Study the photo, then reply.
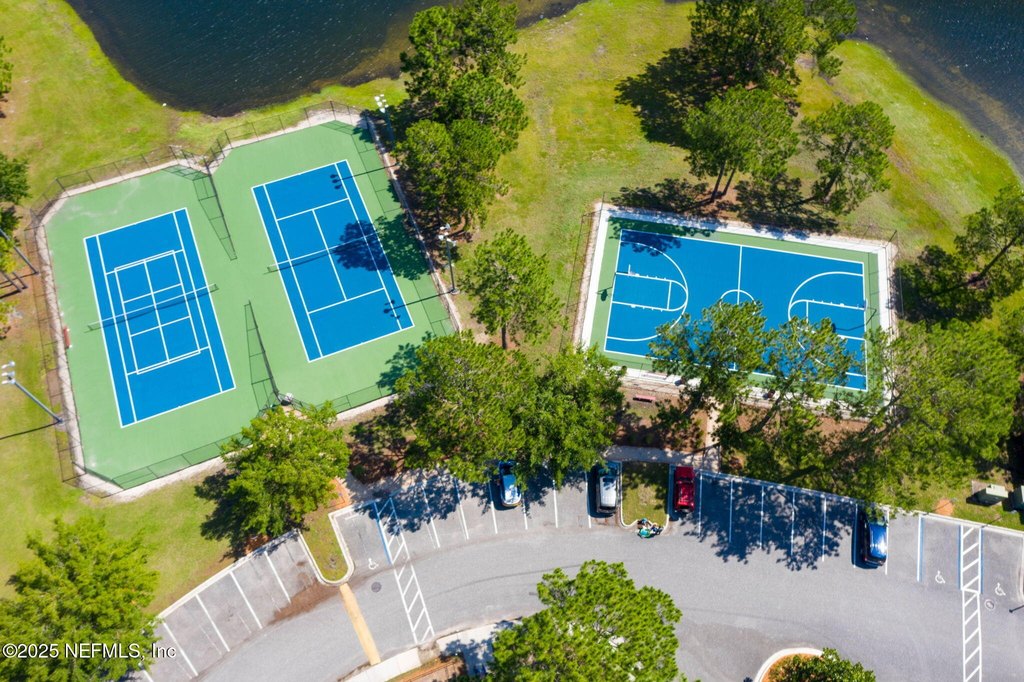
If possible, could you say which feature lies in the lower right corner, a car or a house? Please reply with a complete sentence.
The feature located in the lower right corner is a car.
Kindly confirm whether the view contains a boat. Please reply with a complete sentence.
No, I can't see a single boat in this photo.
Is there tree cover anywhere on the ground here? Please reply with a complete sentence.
Yes, some tree cover is visible.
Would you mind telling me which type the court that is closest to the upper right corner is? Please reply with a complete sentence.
I'd say the court that is closest to the upper right corner is a basketball court.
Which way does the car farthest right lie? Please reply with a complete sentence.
The car farthest right is oriented up and down.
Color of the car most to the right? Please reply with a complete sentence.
The car most to the right is blue.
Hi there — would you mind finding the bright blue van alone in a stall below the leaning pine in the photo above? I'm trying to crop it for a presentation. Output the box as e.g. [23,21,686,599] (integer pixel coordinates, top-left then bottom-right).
[862,513,892,572]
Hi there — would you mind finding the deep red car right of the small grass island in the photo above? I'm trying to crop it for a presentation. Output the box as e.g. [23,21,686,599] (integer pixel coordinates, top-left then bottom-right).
[673,467,698,518]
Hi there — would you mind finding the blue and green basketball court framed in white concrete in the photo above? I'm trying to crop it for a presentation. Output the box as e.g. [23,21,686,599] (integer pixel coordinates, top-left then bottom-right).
[576,209,894,421]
